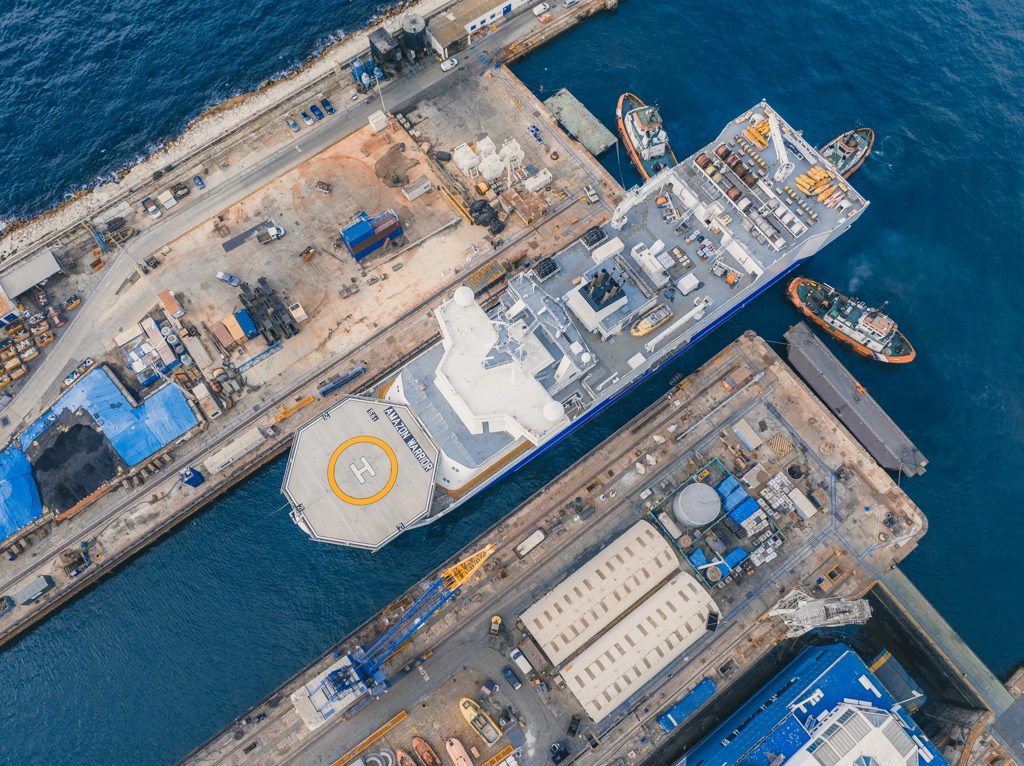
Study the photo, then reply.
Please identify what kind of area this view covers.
port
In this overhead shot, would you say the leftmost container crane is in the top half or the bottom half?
bottom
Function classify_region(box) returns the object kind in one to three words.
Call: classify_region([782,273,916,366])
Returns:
boat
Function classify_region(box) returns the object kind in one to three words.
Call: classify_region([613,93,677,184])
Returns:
boat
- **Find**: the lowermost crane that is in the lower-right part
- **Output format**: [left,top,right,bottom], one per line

[757,589,871,644]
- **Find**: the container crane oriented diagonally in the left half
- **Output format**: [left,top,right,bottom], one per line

[290,541,499,731]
